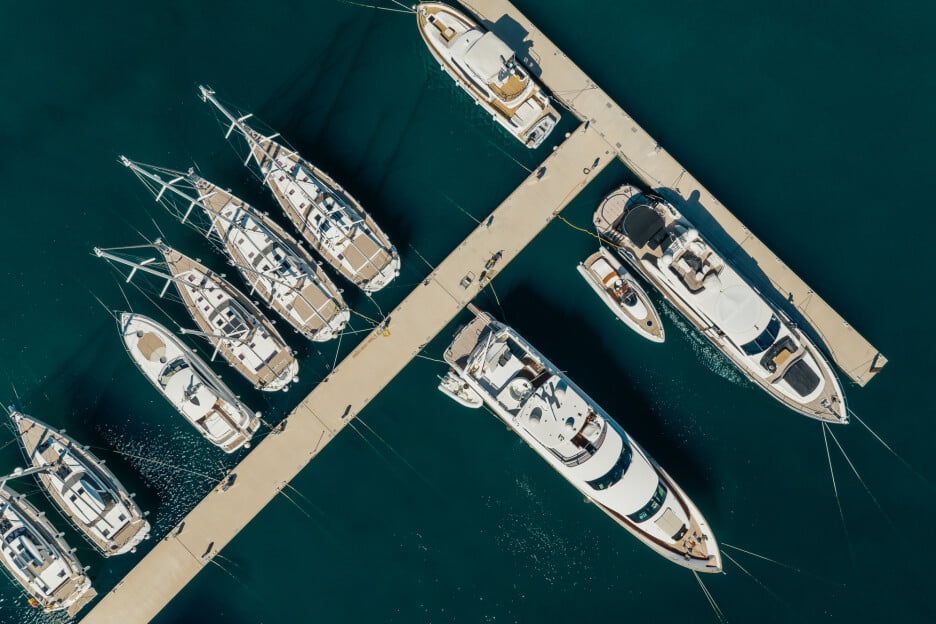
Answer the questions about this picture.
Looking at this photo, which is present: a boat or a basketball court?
boat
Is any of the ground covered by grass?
No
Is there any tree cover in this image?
No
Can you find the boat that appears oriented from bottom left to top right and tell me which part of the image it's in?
top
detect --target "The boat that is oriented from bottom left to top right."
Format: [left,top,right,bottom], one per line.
[525,116,556,145]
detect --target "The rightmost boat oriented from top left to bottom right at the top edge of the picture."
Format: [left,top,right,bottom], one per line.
[416,0,561,153]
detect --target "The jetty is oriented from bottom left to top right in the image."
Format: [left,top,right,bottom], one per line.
[80,122,619,624]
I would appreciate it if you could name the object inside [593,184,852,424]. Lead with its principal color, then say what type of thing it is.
white boat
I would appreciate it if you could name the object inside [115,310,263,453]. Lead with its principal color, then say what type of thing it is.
white boat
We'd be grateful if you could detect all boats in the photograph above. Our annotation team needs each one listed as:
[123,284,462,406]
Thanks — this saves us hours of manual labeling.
[525,116,556,145]
[90,237,302,390]
[0,482,96,619]
[573,243,667,344]
[445,301,729,577]
[112,156,351,343]
[115,310,263,453]
[191,80,399,294]
[593,184,852,424]
[0,409,155,555]
[437,370,485,406]
[416,0,561,153]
